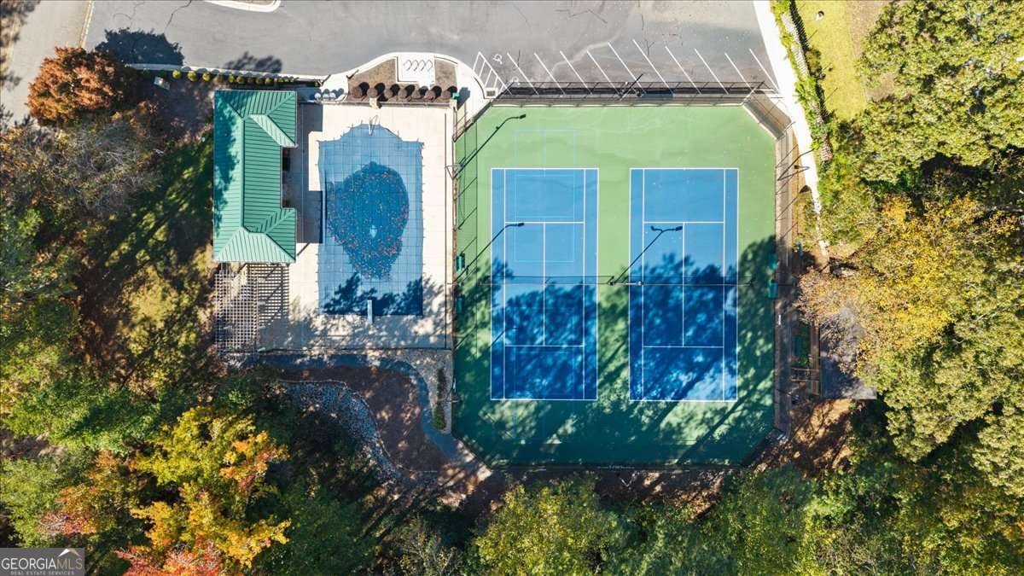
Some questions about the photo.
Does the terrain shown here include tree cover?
Yes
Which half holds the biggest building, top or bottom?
top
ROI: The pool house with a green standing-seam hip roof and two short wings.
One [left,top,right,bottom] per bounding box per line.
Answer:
[212,90,299,262]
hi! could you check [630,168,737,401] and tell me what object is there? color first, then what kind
blue tennis court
